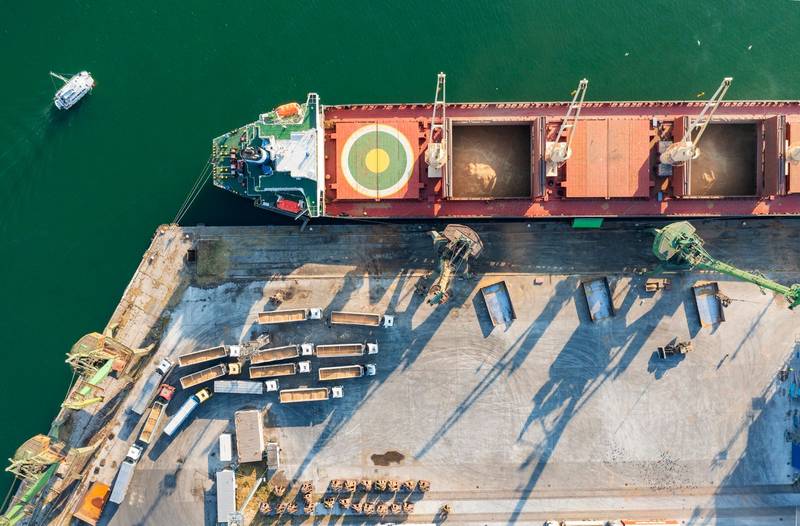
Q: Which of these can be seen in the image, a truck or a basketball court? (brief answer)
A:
truck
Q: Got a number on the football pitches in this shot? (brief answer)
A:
0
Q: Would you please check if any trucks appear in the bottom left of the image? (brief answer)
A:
Yes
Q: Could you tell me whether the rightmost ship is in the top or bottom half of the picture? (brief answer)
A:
top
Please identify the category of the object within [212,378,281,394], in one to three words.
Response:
vehicle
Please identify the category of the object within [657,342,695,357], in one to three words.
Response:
work vehicle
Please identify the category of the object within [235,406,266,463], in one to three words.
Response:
building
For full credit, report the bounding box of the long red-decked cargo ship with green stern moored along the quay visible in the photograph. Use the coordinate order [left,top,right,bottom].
[213,70,800,222]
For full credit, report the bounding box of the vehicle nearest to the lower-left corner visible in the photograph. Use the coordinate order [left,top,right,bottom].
[110,441,146,504]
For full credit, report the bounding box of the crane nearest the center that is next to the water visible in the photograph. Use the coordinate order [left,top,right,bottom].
[425,226,483,306]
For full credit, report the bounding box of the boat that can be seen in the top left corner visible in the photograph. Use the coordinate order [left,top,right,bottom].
[53,70,96,113]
